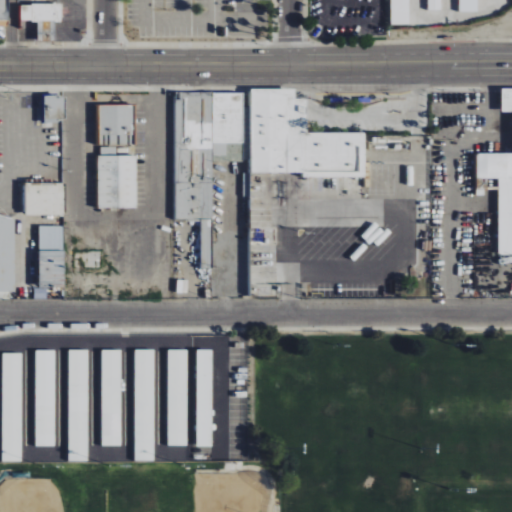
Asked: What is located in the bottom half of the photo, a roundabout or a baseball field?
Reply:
baseball field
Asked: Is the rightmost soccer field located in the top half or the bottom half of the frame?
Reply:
bottom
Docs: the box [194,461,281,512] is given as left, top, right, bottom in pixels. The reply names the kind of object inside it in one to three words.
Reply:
baseball field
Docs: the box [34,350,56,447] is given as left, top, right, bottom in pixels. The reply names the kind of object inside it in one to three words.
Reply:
building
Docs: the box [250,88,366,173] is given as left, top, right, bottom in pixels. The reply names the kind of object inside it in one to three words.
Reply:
building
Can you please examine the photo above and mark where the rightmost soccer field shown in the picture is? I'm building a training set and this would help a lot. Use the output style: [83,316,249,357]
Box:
[252,335,512,512]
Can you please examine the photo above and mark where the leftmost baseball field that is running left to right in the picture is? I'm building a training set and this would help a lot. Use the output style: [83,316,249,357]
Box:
[0,461,194,512]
